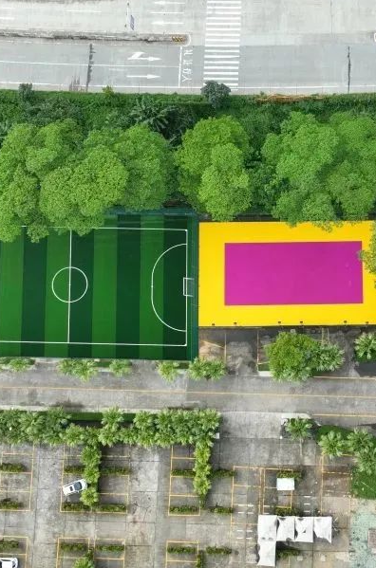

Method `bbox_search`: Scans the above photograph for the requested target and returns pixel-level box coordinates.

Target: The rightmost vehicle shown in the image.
[58,479,86,498]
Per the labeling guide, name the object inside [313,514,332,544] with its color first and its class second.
white tent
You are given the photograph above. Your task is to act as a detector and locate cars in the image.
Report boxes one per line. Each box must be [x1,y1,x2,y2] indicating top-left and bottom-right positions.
[0,559,19,568]
[58,479,86,498]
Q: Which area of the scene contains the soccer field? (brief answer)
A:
left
